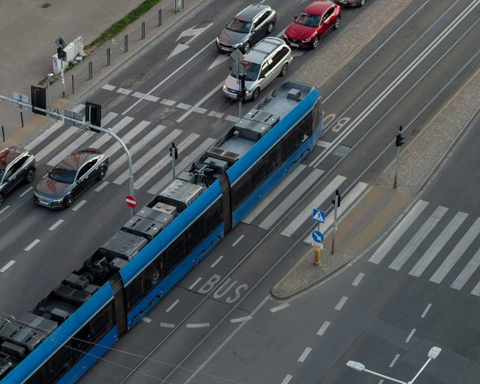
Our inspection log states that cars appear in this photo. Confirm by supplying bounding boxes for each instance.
[220,37,295,100]
[33,147,112,207]
[284,0,346,48]
[217,1,280,50]
[0,146,39,207]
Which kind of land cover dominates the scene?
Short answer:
paved ground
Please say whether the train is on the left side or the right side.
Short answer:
left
